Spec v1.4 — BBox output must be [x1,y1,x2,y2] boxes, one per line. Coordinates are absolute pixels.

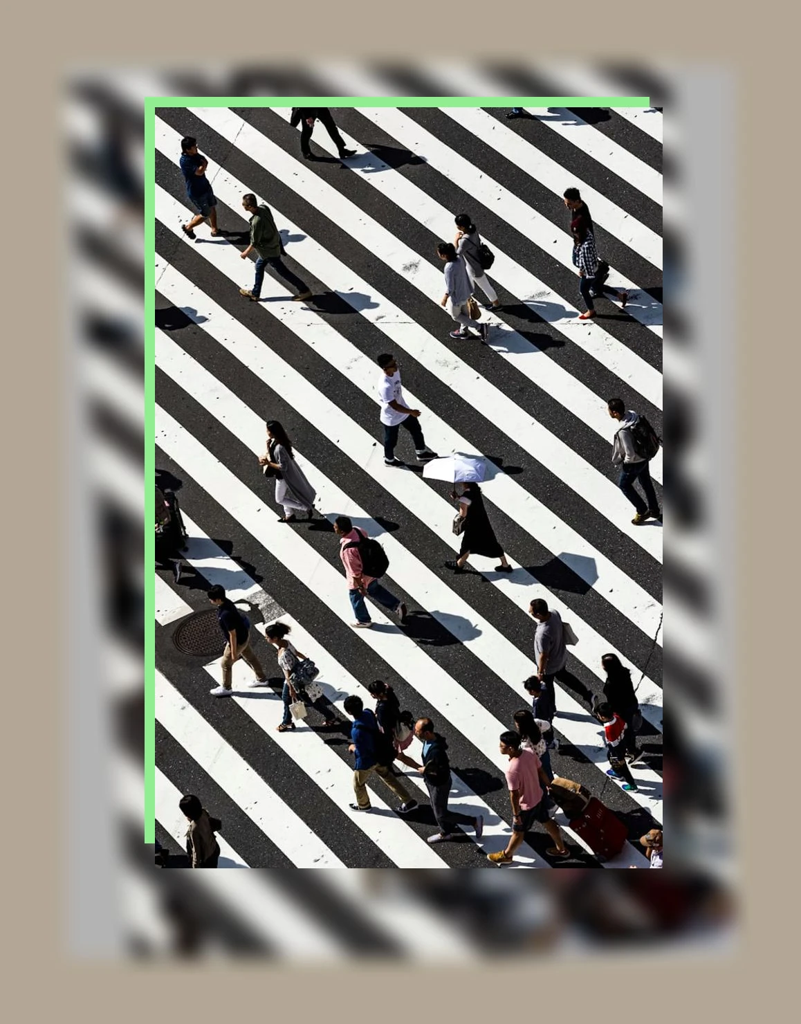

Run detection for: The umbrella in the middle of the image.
[419,456,490,505]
